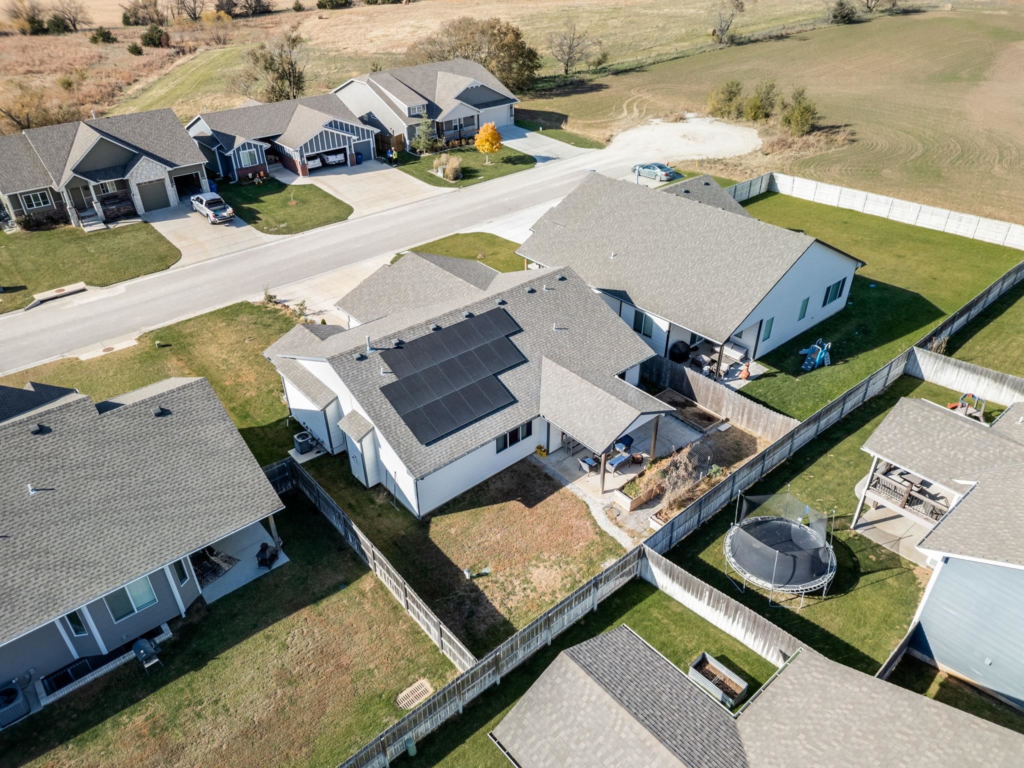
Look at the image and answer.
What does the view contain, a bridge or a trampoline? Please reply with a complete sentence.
It is a trampoline that can be seen here.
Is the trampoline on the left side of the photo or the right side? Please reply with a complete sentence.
You can find the trampoline on the right side of the picture.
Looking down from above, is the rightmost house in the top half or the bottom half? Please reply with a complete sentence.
The rightmost house is in the bottom half of the image.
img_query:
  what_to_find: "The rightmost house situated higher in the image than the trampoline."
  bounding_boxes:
[509,164,867,378]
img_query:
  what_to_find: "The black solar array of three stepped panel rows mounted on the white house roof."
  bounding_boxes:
[380,303,527,444]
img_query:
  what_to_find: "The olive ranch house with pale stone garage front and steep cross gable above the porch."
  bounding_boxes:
[0,106,213,230]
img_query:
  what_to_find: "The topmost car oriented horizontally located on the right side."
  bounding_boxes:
[634,163,674,180]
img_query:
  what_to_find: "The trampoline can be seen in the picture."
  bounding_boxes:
[726,487,835,614]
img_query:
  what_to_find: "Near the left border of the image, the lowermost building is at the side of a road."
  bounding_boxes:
[0,374,288,697]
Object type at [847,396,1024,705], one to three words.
house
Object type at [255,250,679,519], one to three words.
house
